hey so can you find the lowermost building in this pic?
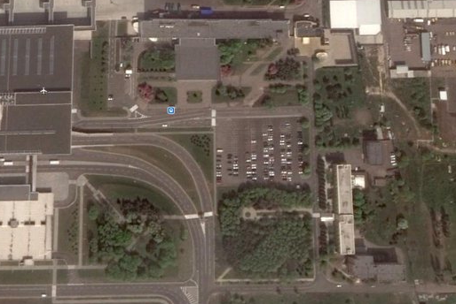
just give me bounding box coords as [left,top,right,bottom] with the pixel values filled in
[346,239,405,283]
